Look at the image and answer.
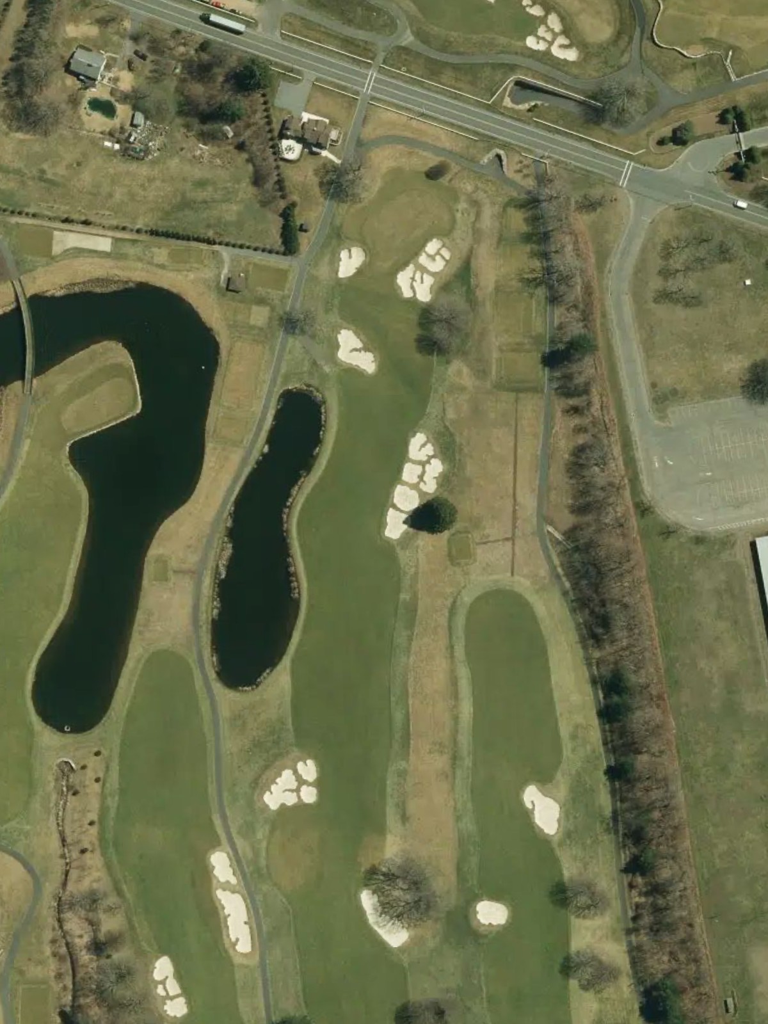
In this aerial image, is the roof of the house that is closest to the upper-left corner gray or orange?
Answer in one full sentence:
In this view, the roof of the house that is closest to the upper-left corner is gray.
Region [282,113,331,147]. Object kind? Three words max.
house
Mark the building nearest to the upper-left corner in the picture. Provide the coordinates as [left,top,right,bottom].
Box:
[69,47,107,88]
